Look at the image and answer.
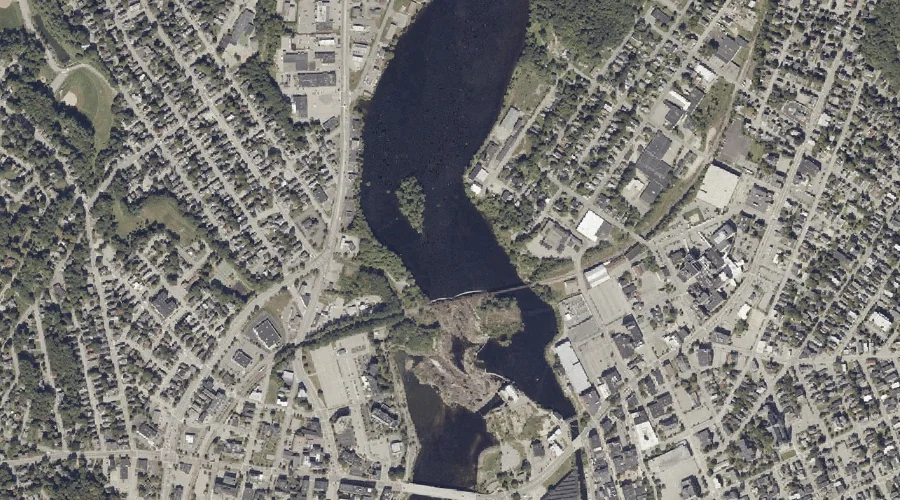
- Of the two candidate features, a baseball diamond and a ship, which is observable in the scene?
baseball diamond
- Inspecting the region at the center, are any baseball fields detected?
No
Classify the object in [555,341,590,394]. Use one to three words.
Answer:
building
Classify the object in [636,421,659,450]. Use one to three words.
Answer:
building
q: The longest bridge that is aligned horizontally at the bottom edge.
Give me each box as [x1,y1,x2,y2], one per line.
[405,479,477,499]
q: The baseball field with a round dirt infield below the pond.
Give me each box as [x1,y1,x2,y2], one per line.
[60,66,103,143]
